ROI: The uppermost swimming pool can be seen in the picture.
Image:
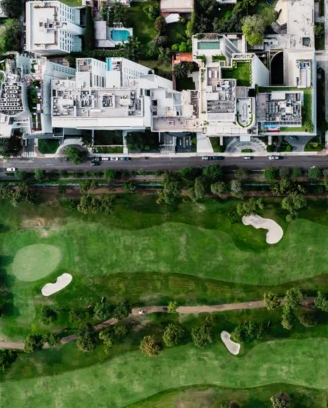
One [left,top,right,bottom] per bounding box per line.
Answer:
[109,28,131,41]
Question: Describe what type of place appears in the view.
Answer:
golf course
